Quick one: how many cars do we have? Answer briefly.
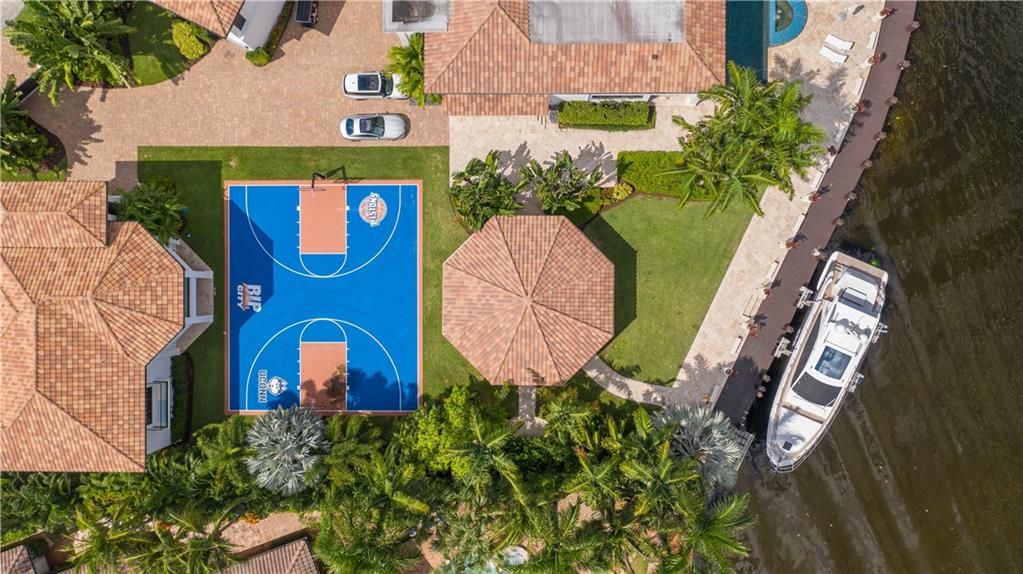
2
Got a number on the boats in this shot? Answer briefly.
one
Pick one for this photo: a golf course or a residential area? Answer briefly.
residential area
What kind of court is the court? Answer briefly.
basketball court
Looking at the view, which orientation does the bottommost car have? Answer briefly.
from left to right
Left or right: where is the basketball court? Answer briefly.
left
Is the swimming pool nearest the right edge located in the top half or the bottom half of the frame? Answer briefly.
top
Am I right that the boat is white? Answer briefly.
Yes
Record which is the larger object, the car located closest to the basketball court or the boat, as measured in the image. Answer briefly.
the boat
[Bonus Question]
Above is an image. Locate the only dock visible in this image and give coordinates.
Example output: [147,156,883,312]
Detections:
[713,0,917,427]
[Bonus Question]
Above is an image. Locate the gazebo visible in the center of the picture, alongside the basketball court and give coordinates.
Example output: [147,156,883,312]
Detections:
[442,215,615,386]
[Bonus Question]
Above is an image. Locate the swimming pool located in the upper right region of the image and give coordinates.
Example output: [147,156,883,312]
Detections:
[726,0,811,83]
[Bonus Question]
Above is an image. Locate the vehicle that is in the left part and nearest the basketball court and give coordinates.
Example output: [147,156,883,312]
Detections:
[340,110,407,142]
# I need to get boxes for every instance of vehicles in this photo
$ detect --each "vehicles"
[295,0,320,27]
[343,69,409,102]
[340,110,407,142]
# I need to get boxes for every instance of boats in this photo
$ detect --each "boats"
[768,253,889,475]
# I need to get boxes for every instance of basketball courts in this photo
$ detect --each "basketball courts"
[225,181,423,415]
